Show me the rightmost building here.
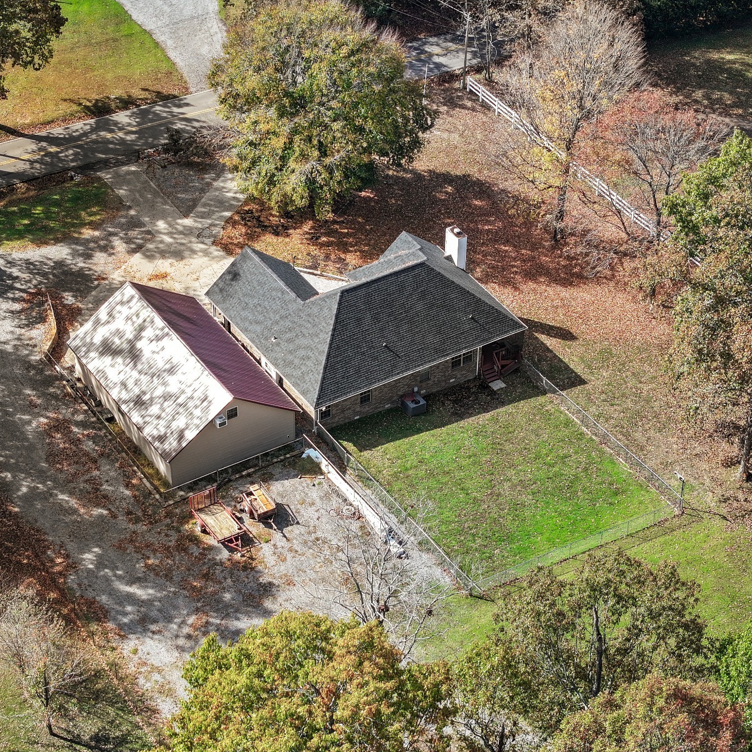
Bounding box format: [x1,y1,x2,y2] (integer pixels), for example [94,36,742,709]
[205,226,528,436]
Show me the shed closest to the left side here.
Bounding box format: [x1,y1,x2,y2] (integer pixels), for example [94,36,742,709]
[67,282,301,488]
